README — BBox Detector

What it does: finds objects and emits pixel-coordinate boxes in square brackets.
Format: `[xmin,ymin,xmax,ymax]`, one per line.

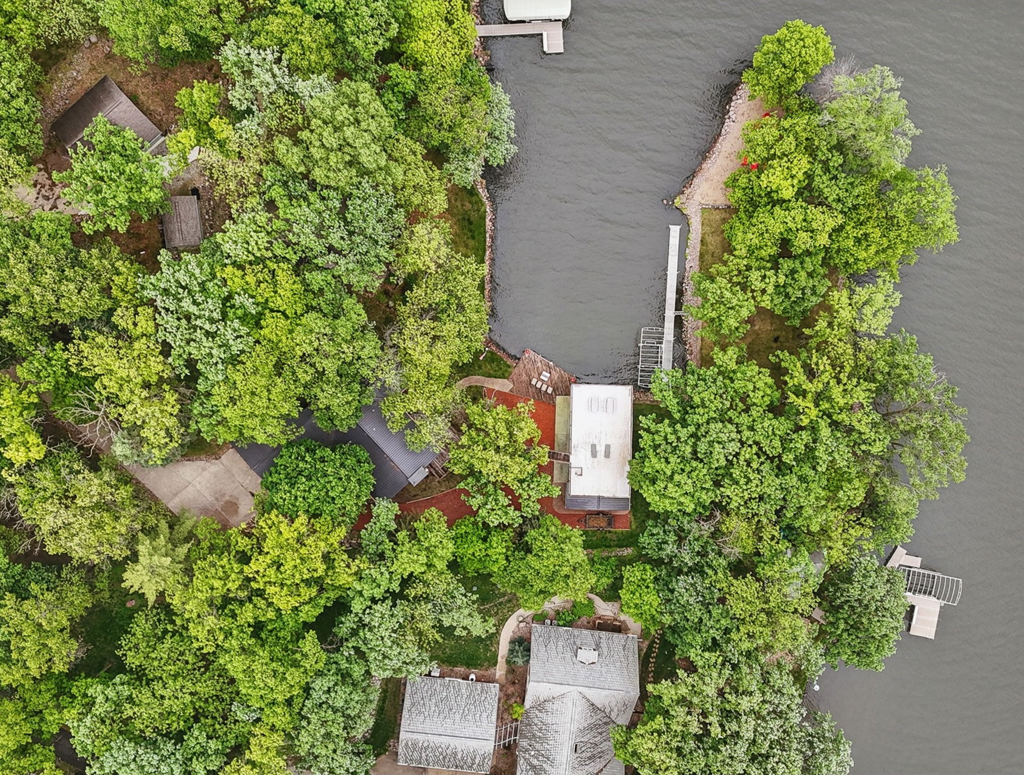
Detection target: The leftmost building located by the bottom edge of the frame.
[397,674,500,775]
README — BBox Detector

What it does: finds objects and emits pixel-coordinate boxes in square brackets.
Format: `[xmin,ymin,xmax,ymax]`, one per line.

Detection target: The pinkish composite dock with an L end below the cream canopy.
[483,22,564,54]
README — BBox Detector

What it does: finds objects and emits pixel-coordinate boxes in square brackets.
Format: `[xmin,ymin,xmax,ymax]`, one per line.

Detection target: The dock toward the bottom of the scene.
[883,550,941,641]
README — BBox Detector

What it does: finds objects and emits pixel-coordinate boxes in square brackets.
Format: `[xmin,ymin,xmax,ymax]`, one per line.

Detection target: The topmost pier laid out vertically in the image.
[662,225,683,374]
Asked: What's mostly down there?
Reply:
trees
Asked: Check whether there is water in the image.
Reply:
Yes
